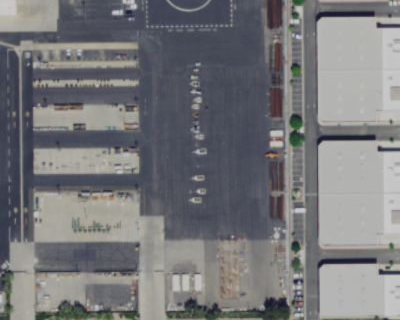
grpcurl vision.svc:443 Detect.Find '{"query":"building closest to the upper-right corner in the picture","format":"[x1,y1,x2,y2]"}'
[316,17,400,121]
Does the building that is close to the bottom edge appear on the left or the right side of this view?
right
